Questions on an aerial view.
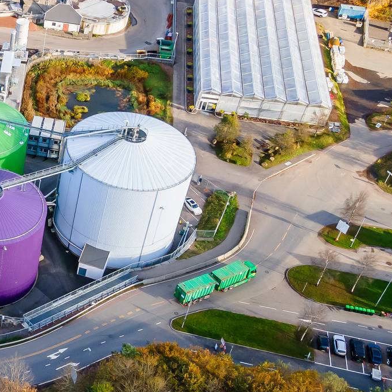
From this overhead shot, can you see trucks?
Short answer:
Yes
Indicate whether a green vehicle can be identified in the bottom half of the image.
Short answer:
Yes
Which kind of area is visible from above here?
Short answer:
industrial area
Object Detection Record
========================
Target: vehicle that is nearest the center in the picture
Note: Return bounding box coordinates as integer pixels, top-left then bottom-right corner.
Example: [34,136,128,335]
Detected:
[184,196,204,213]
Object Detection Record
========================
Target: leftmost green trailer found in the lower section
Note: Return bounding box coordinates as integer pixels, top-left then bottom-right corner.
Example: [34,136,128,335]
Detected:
[178,276,221,309]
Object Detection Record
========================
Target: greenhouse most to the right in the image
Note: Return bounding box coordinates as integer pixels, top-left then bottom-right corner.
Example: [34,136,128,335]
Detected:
[195,0,329,119]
